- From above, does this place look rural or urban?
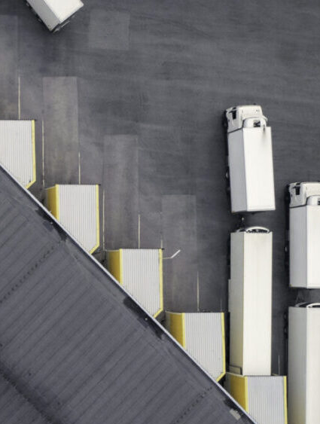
urban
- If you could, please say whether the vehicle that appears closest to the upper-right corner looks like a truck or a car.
truck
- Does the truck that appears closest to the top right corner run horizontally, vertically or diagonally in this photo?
vertically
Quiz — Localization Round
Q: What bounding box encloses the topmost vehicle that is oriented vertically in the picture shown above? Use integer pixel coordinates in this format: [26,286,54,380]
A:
[222,106,276,214]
